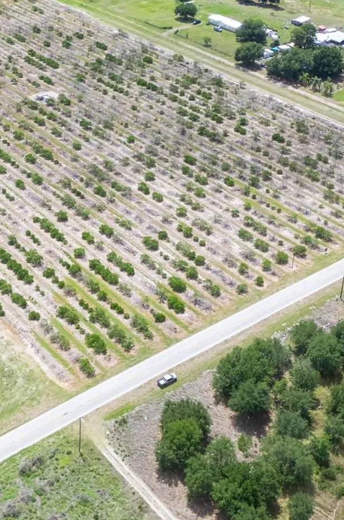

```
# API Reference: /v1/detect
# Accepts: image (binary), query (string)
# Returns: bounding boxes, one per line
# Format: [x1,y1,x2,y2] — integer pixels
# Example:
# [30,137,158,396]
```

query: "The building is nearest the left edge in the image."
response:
[209,16,241,33]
